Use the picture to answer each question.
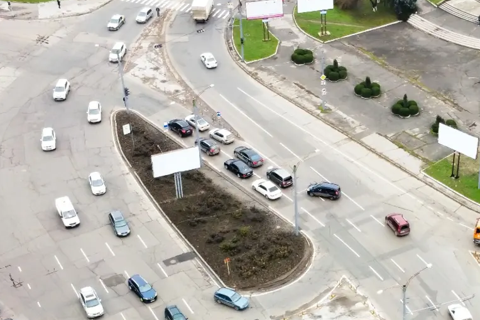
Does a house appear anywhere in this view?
No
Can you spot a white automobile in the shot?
Yes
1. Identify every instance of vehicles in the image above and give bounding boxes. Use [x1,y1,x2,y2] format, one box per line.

[172,120,194,137]
[89,172,105,195]
[87,103,102,122]
[265,168,294,189]
[385,213,410,237]
[212,286,253,311]
[449,303,472,320]
[109,211,130,237]
[129,274,154,303]
[54,77,70,98]
[235,148,263,167]
[252,180,281,200]
[210,128,235,145]
[40,129,55,149]
[307,181,342,199]
[198,139,222,156]
[56,194,78,225]
[107,14,125,30]
[201,54,217,70]
[81,288,104,318]
[224,160,253,179]
[135,4,154,23]
[166,305,189,320]
[109,41,125,60]
[192,0,211,21]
